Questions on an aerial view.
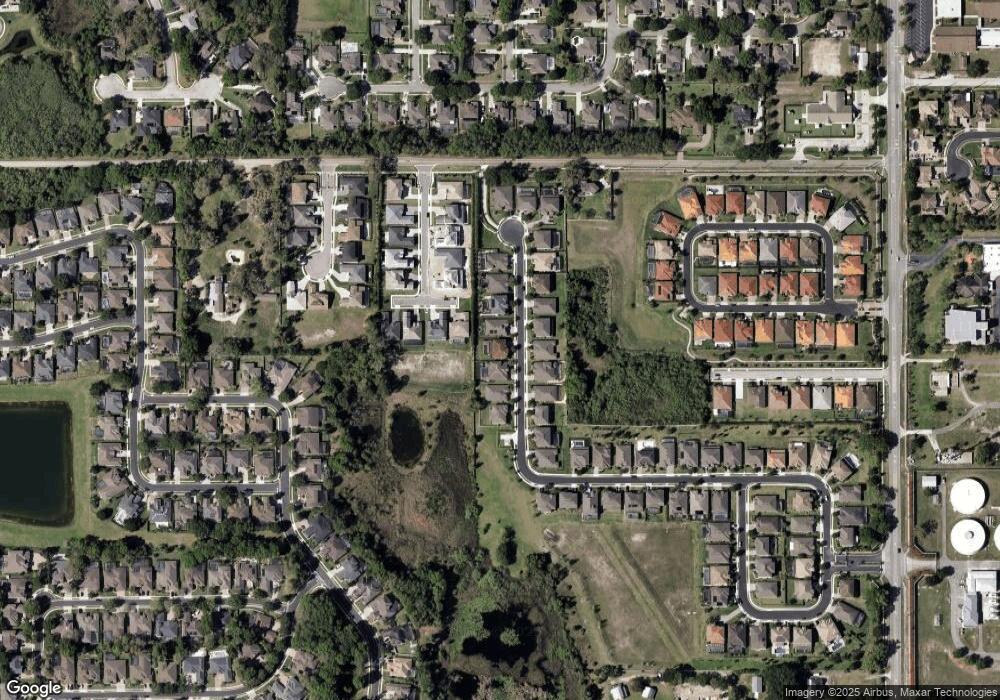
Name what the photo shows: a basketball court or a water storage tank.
water storage tank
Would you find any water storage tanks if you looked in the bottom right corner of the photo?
Yes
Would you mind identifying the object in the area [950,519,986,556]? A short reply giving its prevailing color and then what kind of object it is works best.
white water tank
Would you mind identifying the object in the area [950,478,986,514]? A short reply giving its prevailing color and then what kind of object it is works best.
white water tank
